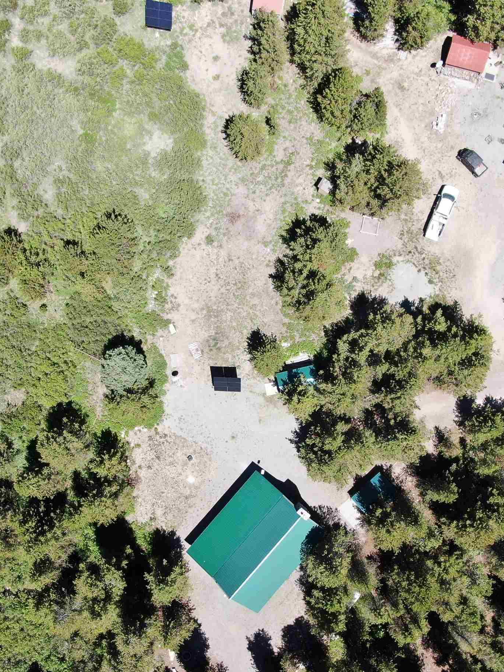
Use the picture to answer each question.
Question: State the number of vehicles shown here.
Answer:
2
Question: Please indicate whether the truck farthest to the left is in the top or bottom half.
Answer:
top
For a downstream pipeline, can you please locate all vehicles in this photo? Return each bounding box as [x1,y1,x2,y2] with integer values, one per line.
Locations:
[455,147,488,178]
[422,183,460,245]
